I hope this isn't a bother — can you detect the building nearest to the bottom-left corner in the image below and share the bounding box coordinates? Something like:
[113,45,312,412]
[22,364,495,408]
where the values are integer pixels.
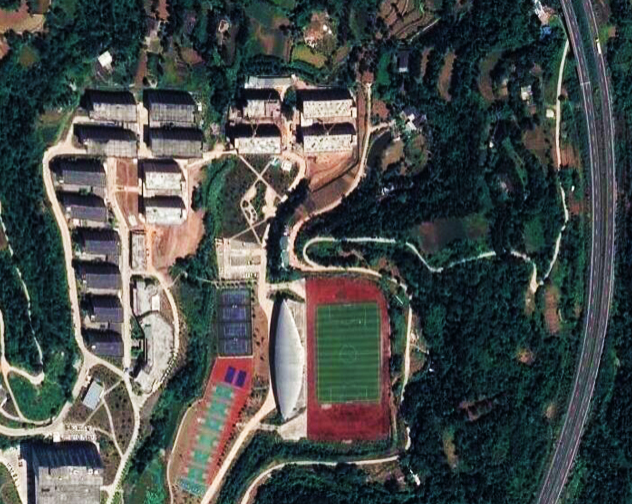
[33,449,104,504]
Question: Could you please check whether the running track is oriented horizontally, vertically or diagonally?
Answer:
vertically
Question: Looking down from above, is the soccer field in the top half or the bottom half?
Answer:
bottom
